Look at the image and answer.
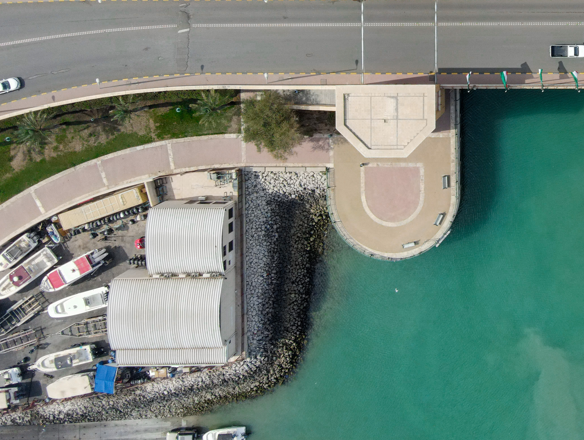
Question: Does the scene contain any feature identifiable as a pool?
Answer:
No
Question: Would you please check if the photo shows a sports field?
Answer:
No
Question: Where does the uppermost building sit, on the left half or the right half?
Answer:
left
